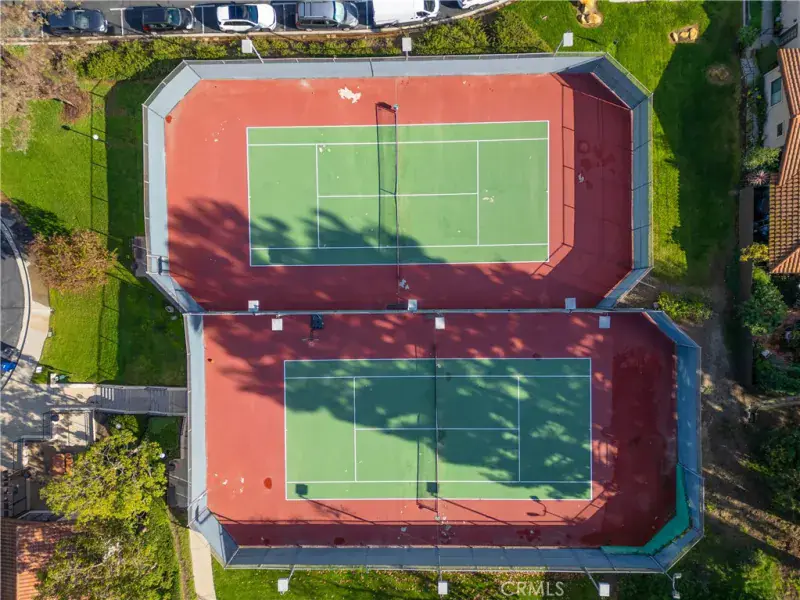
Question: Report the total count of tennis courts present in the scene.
2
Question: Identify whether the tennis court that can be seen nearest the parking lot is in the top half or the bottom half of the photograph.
top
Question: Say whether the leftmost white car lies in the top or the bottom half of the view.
top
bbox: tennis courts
[164,73,633,311]
[205,310,677,548]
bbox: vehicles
[48,5,112,37]
[141,5,198,36]
[296,0,359,33]
[216,2,277,35]
[373,0,439,24]
[459,0,497,11]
